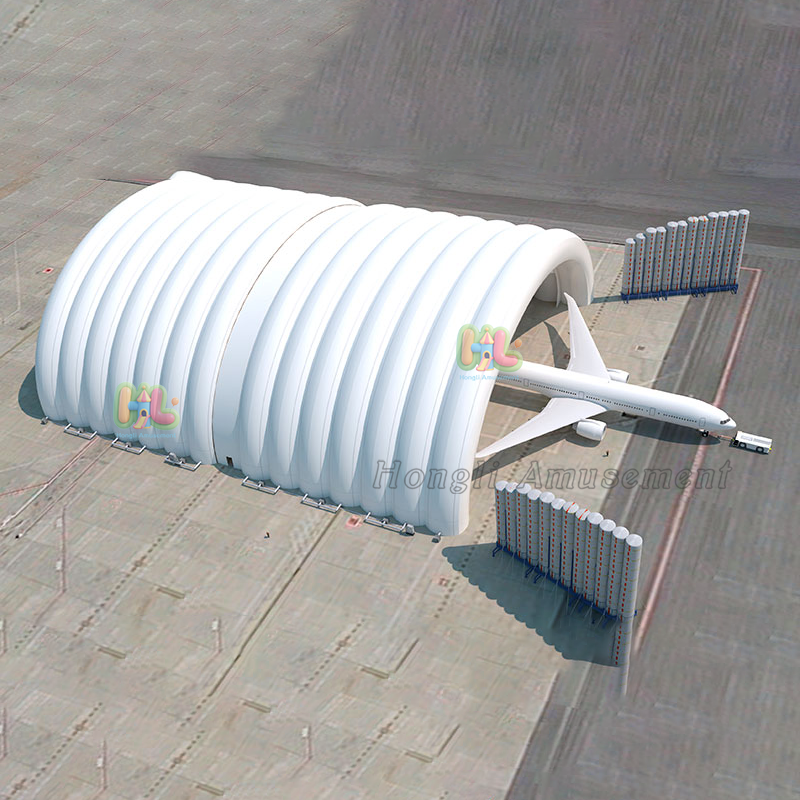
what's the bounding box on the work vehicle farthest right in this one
[734,432,773,454]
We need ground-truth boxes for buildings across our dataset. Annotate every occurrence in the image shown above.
[36,171,592,535]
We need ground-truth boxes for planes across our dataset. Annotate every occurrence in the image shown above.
[480,294,731,455]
